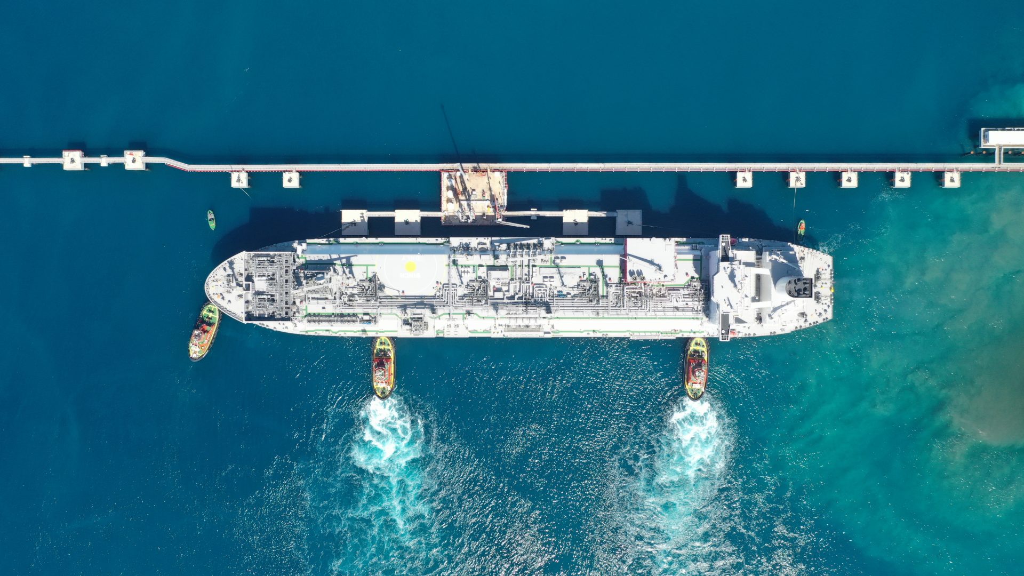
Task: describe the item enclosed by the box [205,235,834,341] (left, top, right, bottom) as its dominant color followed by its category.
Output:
white ship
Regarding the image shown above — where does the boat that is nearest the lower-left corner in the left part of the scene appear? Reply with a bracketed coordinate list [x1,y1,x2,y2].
[190,302,221,361]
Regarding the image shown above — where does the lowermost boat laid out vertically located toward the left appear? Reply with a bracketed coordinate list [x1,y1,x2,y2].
[371,337,396,399]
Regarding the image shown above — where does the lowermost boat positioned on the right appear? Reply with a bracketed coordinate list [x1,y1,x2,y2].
[684,337,709,400]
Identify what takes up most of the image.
water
